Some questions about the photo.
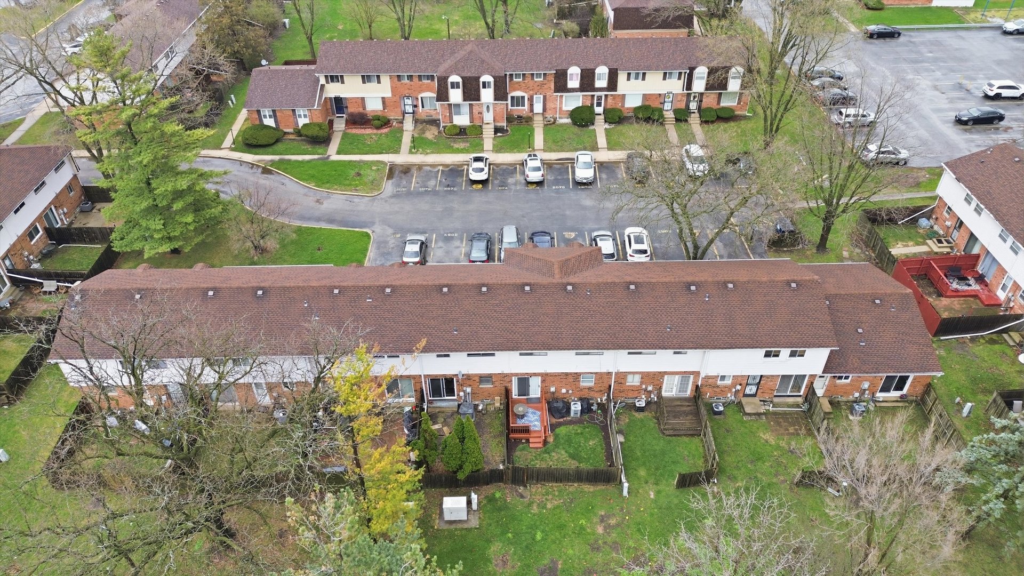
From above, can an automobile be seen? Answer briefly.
Yes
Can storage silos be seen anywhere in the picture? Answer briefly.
No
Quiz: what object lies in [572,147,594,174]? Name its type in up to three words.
car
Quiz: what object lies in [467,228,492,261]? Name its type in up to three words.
car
